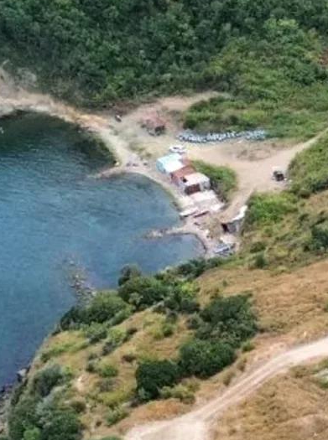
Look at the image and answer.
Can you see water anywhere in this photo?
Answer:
Yes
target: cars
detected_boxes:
[275,167,283,179]
[170,145,187,154]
